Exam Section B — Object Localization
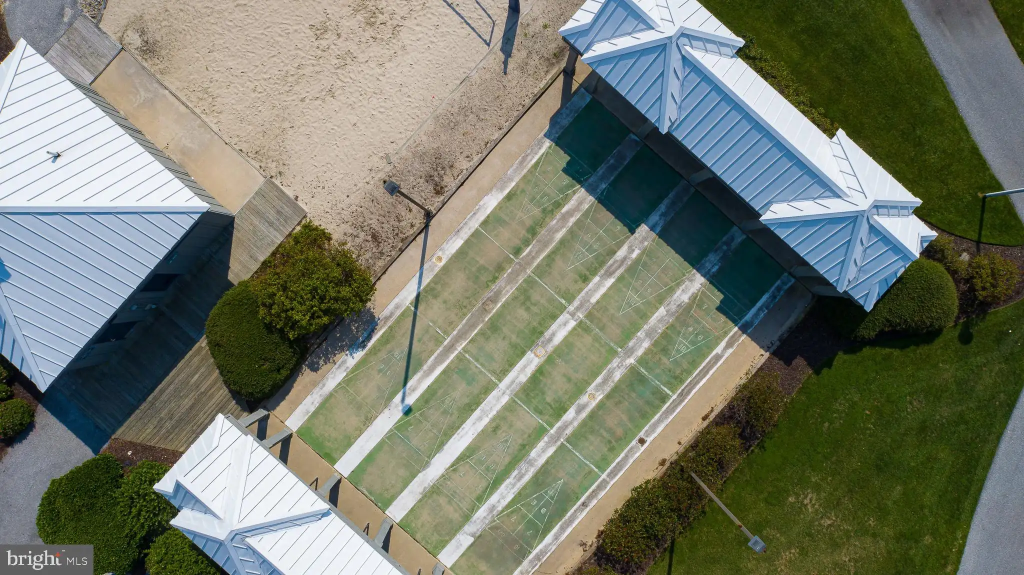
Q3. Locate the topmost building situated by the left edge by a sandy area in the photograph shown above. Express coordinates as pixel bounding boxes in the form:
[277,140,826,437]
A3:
[0,40,232,391]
